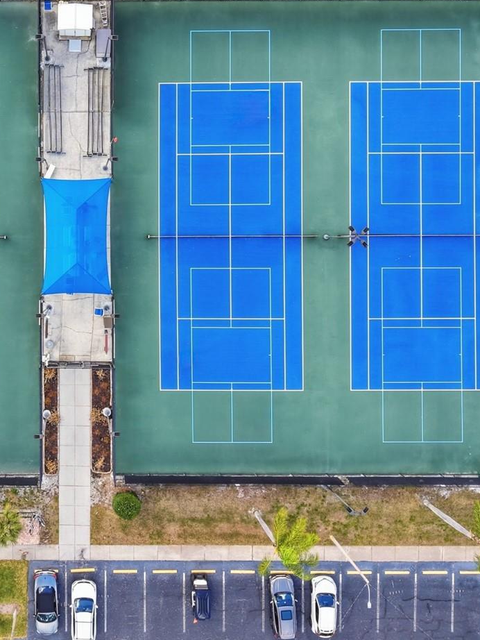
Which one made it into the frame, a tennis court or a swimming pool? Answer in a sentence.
This aerial view contains a tennis court.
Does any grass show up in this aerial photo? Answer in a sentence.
Yes, there is grass in the image.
